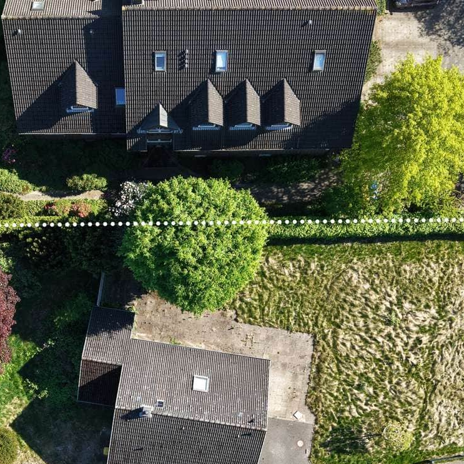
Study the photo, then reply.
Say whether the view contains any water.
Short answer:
No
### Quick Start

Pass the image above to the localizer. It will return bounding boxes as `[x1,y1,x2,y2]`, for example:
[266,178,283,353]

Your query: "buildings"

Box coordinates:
[0,0,378,184]
[77,305,273,464]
